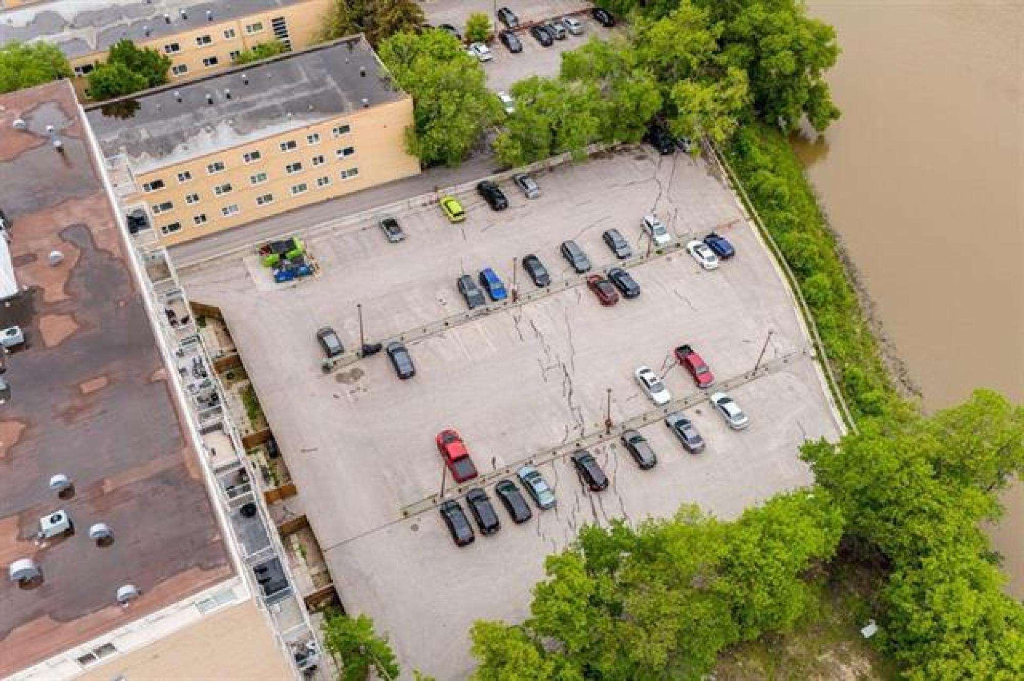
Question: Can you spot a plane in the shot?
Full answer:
No, I find no plane anywhere in the image.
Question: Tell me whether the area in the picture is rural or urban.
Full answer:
The land in this view is best described as urban.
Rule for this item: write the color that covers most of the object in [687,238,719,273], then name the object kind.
white car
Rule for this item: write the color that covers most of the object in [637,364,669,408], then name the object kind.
white car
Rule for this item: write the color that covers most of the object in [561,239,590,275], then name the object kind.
gray car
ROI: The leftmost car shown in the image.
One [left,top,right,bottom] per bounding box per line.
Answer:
[317,324,345,359]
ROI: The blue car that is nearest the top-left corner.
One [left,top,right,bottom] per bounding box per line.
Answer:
[479,267,506,301]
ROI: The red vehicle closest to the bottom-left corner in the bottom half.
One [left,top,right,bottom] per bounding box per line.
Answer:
[439,428,477,484]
